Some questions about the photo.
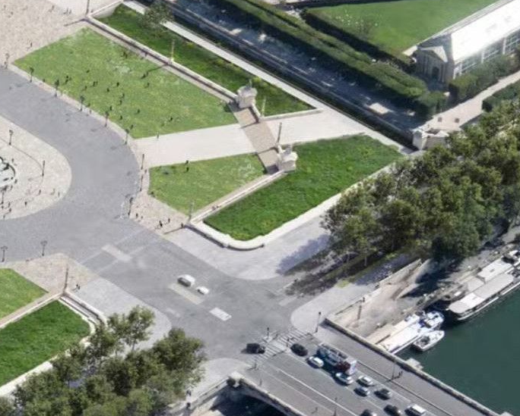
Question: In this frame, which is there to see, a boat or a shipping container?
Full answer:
Looking from above, you can make out a boat.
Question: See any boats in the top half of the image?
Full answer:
No, looking in the top half of the image, there is no boat.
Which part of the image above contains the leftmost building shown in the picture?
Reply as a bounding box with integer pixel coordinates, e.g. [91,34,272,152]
[237,85,255,109]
